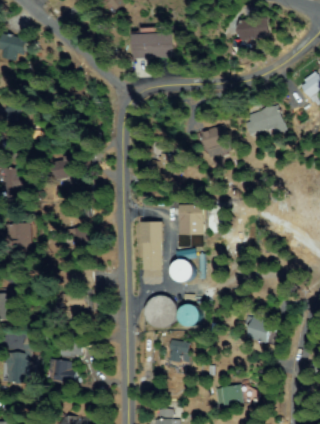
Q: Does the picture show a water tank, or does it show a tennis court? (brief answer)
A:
water tank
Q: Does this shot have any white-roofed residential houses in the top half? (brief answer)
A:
Yes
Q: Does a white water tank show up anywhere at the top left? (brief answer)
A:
No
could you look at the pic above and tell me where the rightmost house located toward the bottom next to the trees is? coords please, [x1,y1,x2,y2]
[246,314,276,342]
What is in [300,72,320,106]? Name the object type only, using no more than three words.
house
